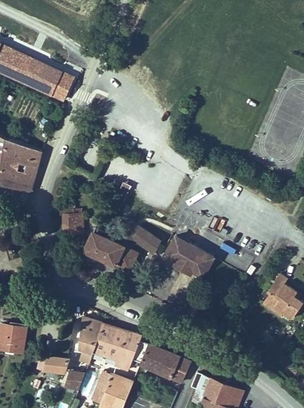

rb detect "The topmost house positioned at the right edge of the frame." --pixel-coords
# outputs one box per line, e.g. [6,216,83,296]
[264,274,303,321]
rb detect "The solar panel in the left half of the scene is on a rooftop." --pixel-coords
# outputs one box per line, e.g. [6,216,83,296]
[0,66,52,95]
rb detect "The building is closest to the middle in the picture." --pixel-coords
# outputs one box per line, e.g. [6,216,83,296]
[132,226,162,254]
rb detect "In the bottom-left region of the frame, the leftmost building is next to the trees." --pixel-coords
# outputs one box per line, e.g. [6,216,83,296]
[0,324,28,354]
